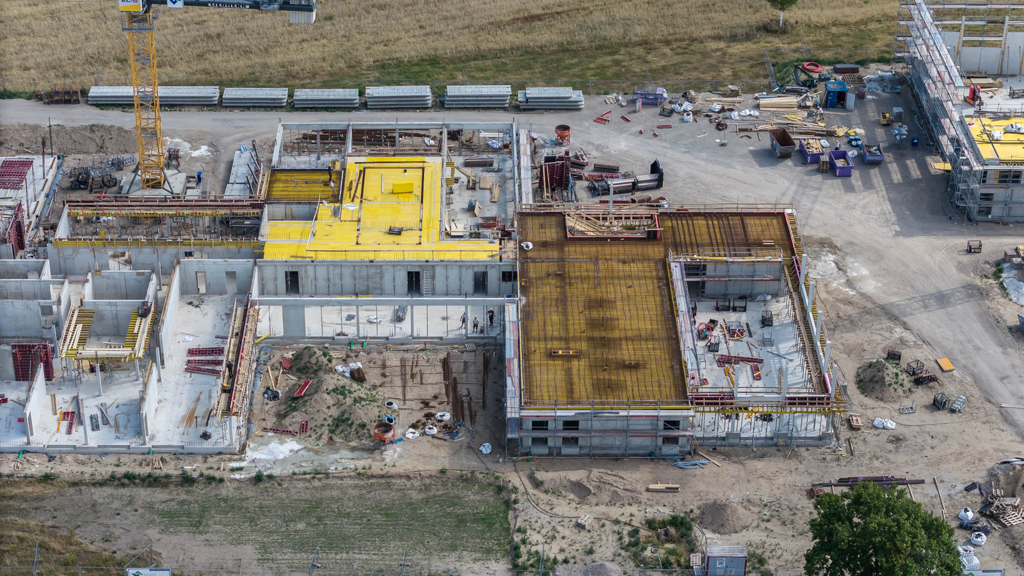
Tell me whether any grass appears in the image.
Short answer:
Yes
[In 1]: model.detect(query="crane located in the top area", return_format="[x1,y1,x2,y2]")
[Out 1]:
[101,0,307,188]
